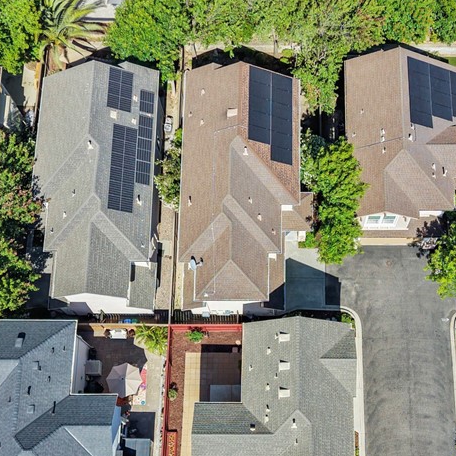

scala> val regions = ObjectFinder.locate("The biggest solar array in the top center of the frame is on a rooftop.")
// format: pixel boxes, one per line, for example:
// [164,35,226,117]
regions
[249,65,293,164]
